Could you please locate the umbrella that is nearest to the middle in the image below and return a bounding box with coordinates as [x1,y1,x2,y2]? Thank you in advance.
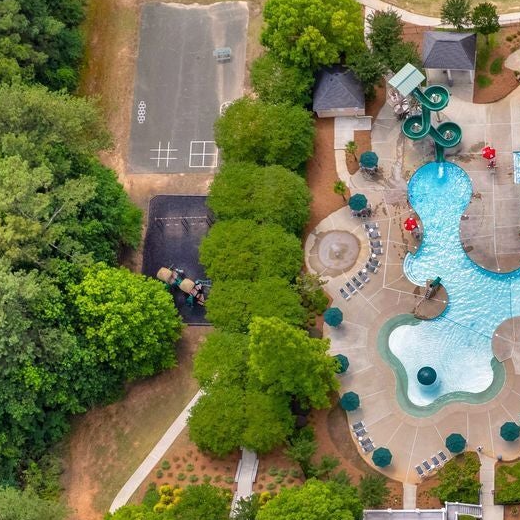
[323,307,344,327]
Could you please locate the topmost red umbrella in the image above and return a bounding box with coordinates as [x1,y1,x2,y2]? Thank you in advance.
[482,147,496,161]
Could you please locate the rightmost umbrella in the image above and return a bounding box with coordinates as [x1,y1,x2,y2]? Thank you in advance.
[500,421,520,442]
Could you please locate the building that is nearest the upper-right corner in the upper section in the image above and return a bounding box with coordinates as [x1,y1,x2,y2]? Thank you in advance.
[421,31,477,85]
